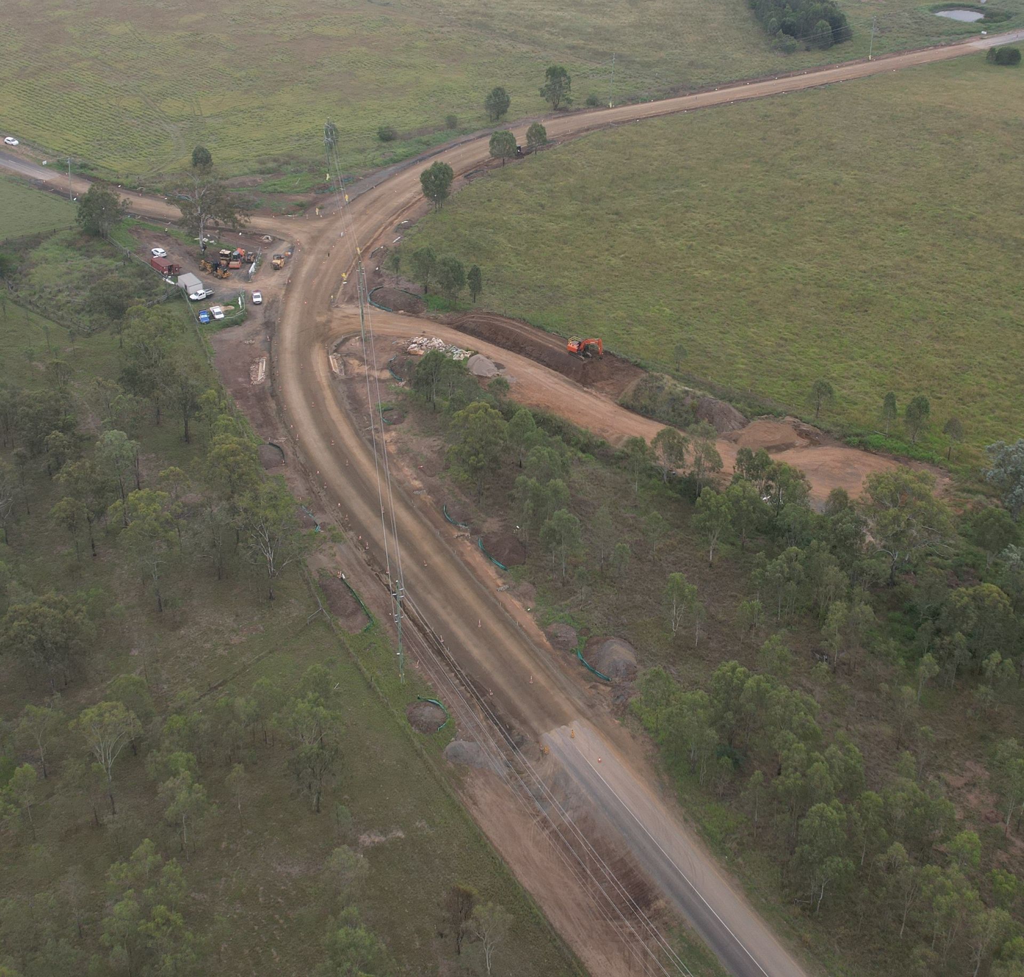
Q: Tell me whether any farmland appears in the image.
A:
Yes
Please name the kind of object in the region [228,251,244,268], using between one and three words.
work vehicle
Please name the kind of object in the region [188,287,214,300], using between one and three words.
vehicle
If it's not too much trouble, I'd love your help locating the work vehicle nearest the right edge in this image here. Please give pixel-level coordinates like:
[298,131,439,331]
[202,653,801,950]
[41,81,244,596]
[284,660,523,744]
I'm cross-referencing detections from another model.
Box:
[569,338,604,366]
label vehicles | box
[245,251,256,265]
[149,247,168,257]
[188,287,214,300]
[218,248,229,265]
[251,289,262,304]
[198,307,209,323]
[228,251,244,268]
[569,338,604,366]
[270,250,285,267]
[4,137,19,146]
[209,304,225,319]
